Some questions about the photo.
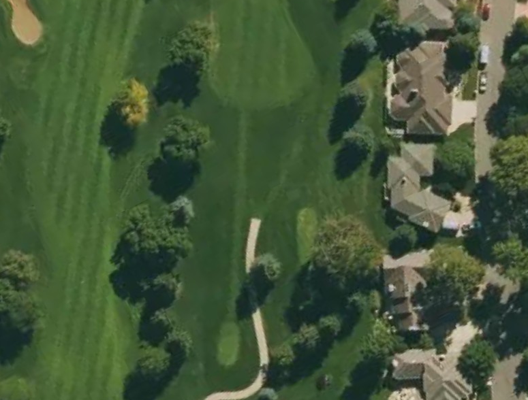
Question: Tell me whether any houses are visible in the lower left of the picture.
No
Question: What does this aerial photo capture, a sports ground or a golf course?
golf course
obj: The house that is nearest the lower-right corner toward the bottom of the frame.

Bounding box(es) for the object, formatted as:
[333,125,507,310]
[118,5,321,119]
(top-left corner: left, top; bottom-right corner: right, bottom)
[393,349,478,400]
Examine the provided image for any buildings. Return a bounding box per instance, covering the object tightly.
[382,252,432,333]
[386,141,456,234]
[390,39,455,137]
[393,349,478,400]
[396,0,457,30]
